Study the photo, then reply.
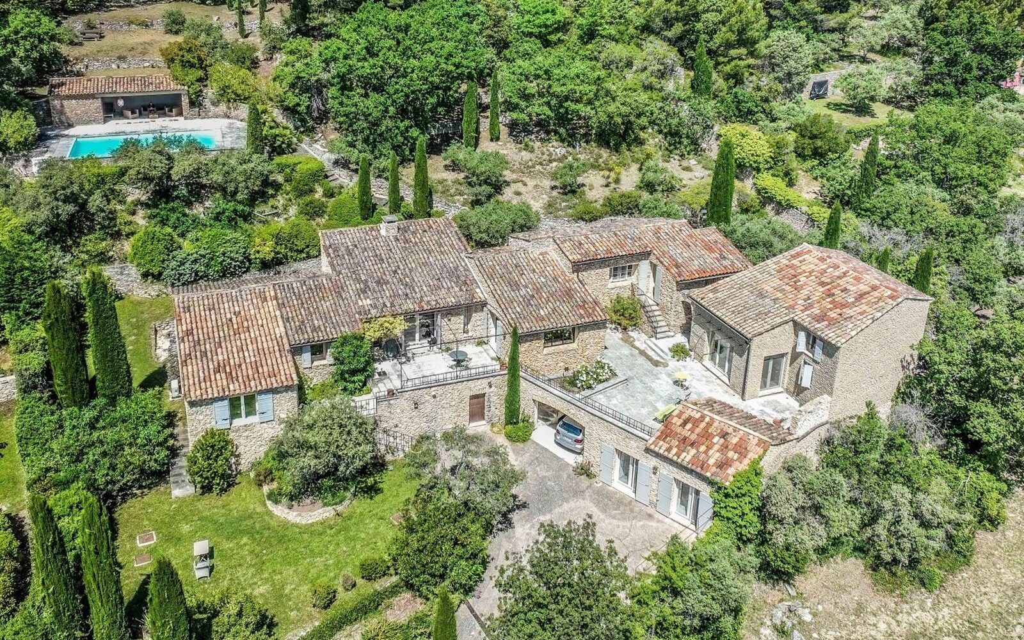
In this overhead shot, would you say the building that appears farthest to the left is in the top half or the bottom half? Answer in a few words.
top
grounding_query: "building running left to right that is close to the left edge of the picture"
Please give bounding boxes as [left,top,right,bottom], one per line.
[47,67,187,126]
